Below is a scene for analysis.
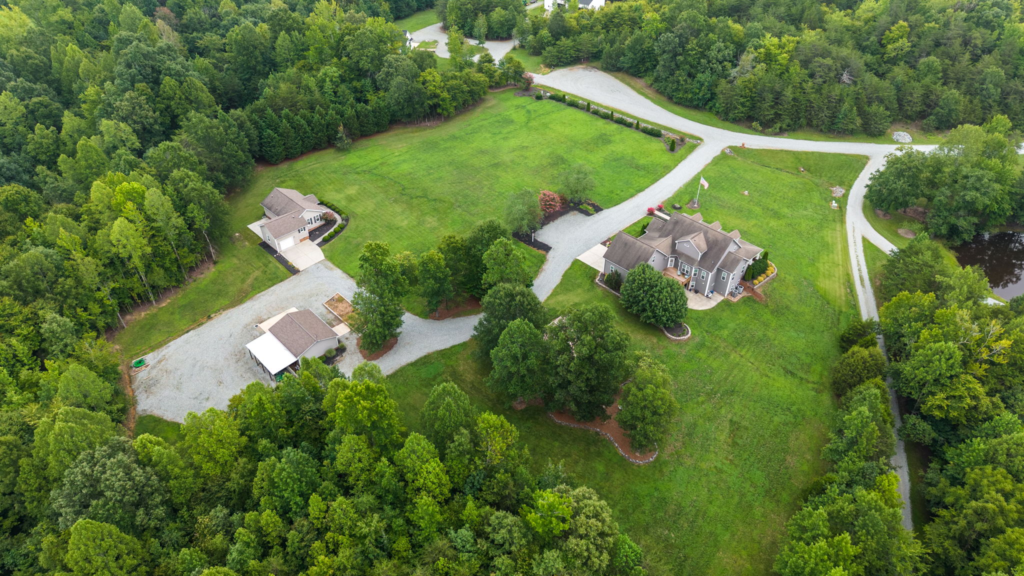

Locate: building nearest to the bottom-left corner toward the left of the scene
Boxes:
[245,309,339,377]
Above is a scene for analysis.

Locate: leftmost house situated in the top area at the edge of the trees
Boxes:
[259,186,326,252]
